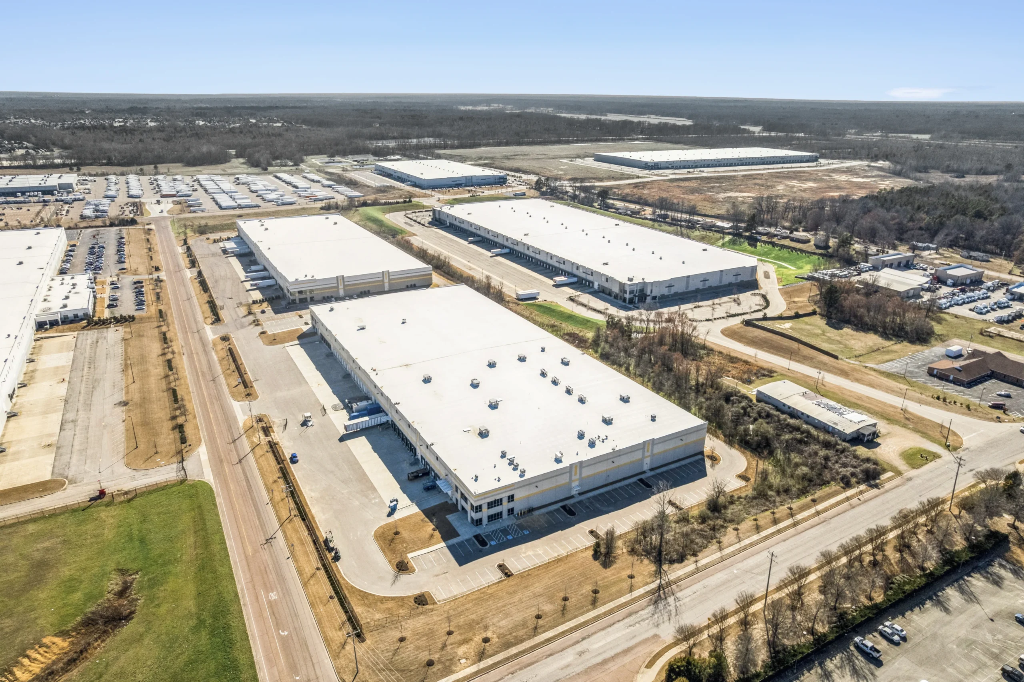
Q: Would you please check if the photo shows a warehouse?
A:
Yes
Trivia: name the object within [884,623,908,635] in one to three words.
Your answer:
vehicle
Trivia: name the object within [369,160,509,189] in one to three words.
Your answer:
building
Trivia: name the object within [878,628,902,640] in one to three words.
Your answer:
vehicle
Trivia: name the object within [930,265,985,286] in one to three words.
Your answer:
building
